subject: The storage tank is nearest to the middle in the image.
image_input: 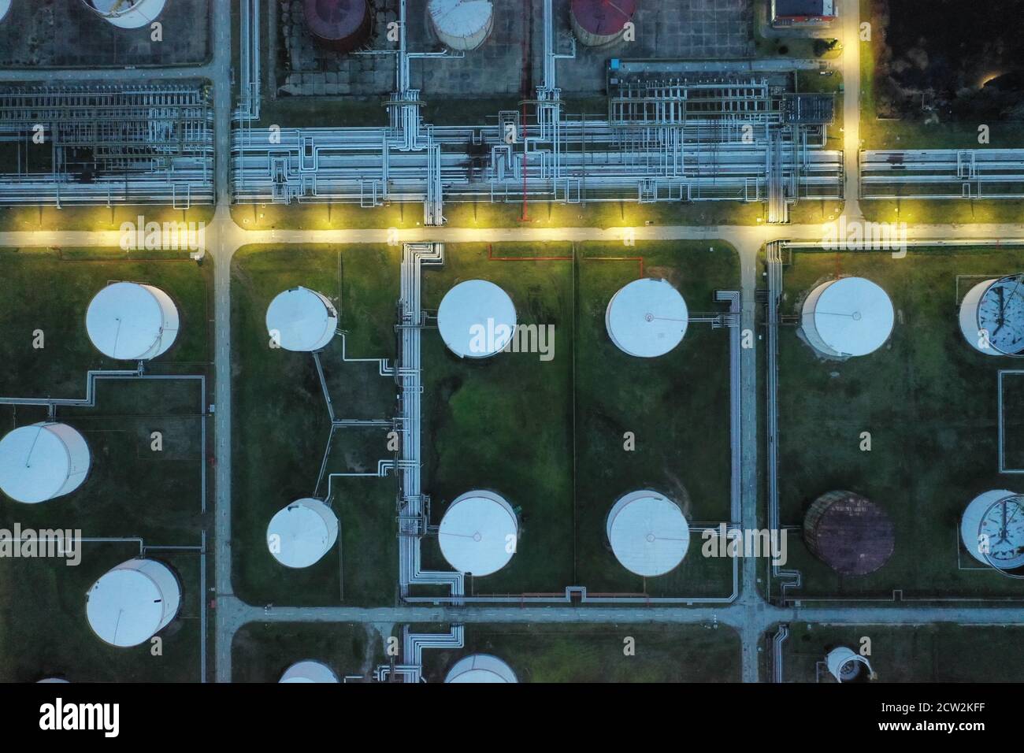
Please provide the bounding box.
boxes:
[437,279,518,359]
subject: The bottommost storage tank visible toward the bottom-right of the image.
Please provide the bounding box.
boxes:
[824,644,876,691]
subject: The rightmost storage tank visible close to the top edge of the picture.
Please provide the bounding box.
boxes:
[567,0,637,48]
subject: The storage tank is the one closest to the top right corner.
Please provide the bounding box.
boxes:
[958,273,1024,357]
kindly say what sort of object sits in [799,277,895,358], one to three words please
storage tank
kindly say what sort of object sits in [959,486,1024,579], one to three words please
storage tank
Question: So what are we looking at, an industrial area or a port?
industrial area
